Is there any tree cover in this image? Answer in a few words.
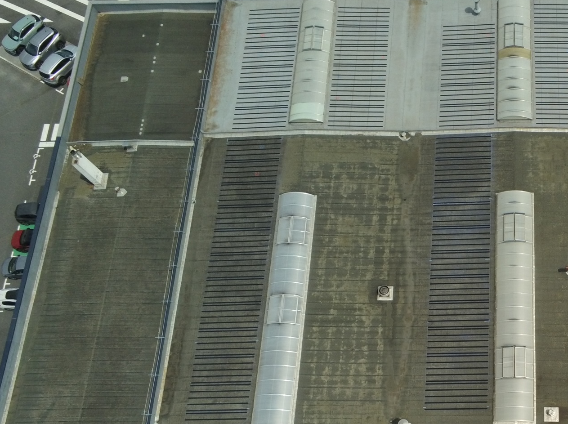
No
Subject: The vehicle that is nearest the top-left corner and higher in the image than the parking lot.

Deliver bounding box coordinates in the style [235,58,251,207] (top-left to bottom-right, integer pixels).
[1,15,47,52]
